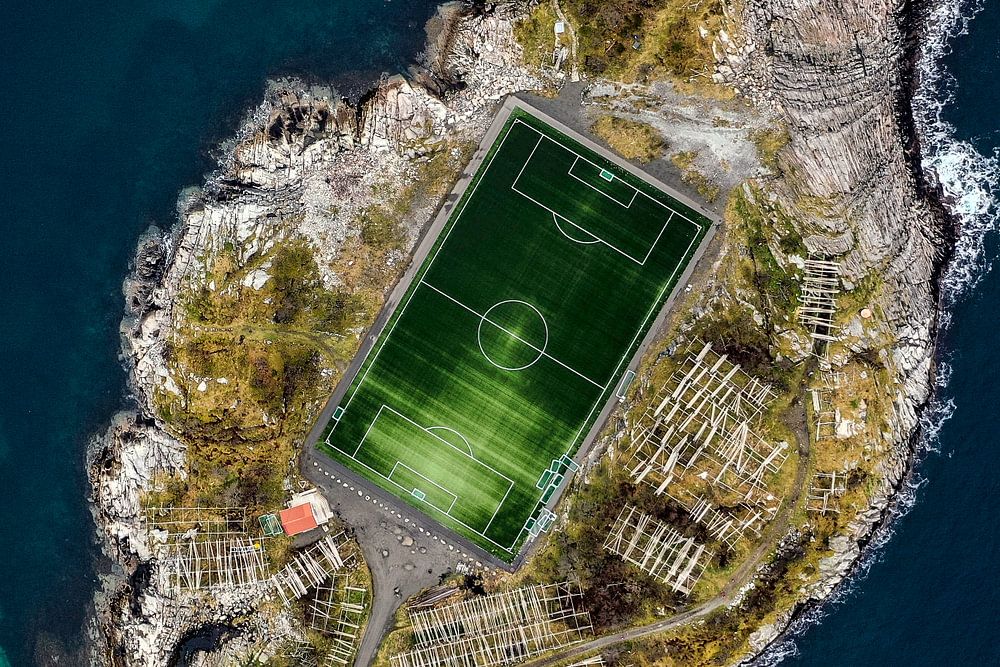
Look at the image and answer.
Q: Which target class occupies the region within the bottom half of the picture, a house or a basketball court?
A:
house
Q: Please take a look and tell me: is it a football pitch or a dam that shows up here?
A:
football pitch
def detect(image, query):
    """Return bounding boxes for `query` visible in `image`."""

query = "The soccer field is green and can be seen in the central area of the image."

[311,97,720,572]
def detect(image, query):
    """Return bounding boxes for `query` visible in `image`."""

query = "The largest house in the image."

[281,502,318,535]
